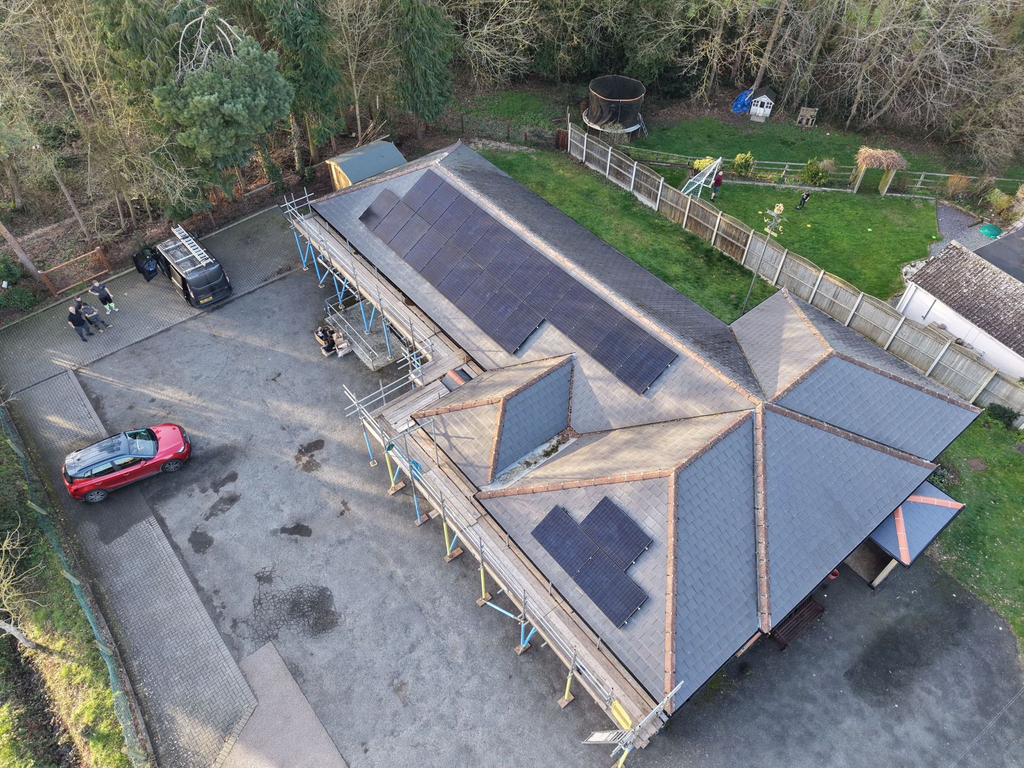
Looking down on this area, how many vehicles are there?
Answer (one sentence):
There are 2 vehicles in the image.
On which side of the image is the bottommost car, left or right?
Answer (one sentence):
The bottommost car sits on the left side.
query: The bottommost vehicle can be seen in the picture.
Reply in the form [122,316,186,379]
[53,417,192,502]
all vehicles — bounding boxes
[125,222,235,302]
[53,417,192,502]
